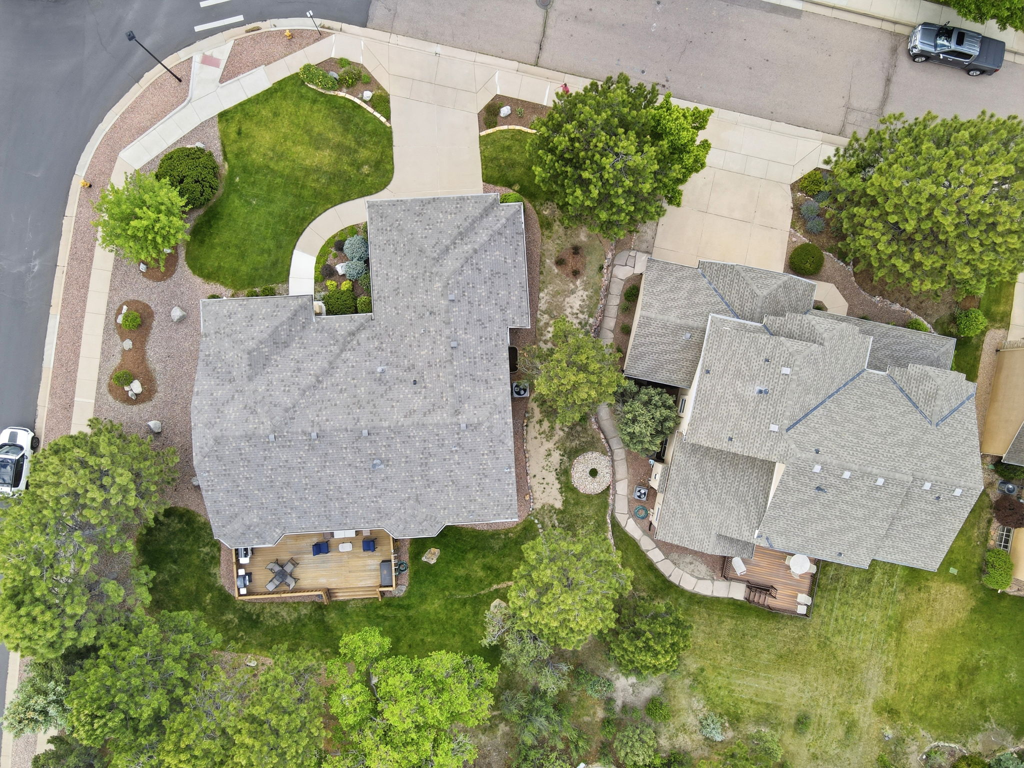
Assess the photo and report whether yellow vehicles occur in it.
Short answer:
No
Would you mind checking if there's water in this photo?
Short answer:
No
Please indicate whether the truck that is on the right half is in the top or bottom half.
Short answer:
top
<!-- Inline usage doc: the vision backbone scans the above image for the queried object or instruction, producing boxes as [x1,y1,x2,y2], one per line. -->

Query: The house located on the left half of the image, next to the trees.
[190,191,532,551]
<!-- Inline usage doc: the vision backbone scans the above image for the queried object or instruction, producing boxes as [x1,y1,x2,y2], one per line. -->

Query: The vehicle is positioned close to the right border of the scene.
[900,20,1002,80]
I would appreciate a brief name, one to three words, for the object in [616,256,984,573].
house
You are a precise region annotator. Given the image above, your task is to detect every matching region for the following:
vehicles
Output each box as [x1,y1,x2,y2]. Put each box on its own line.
[900,20,1002,80]
[0,425,41,498]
